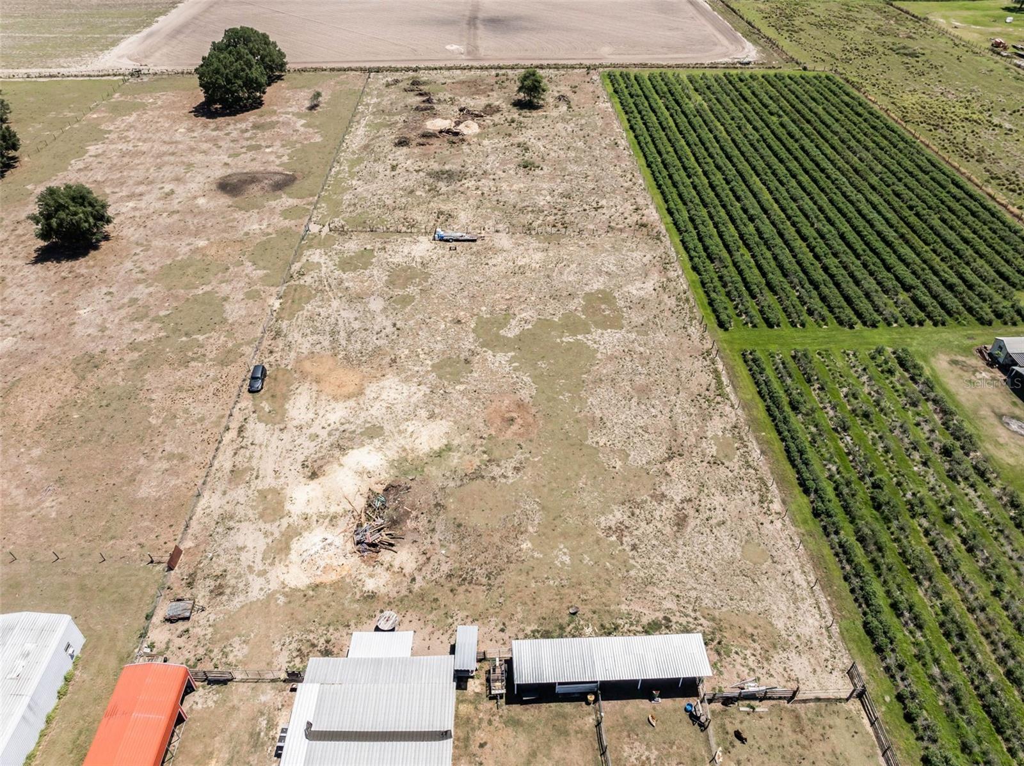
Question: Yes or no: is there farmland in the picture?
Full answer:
Yes, some farmland is visible.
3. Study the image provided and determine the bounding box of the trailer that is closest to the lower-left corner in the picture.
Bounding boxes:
[159,591,207,623]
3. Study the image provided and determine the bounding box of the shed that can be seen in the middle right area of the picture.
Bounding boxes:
[989,334,1024,367]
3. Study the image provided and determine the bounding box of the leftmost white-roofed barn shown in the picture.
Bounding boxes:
[0,610,85,766]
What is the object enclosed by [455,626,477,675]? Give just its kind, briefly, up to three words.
shed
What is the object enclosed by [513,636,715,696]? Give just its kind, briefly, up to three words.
shed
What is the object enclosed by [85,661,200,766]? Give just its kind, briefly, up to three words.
barn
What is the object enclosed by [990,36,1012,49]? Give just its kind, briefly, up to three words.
vehicle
